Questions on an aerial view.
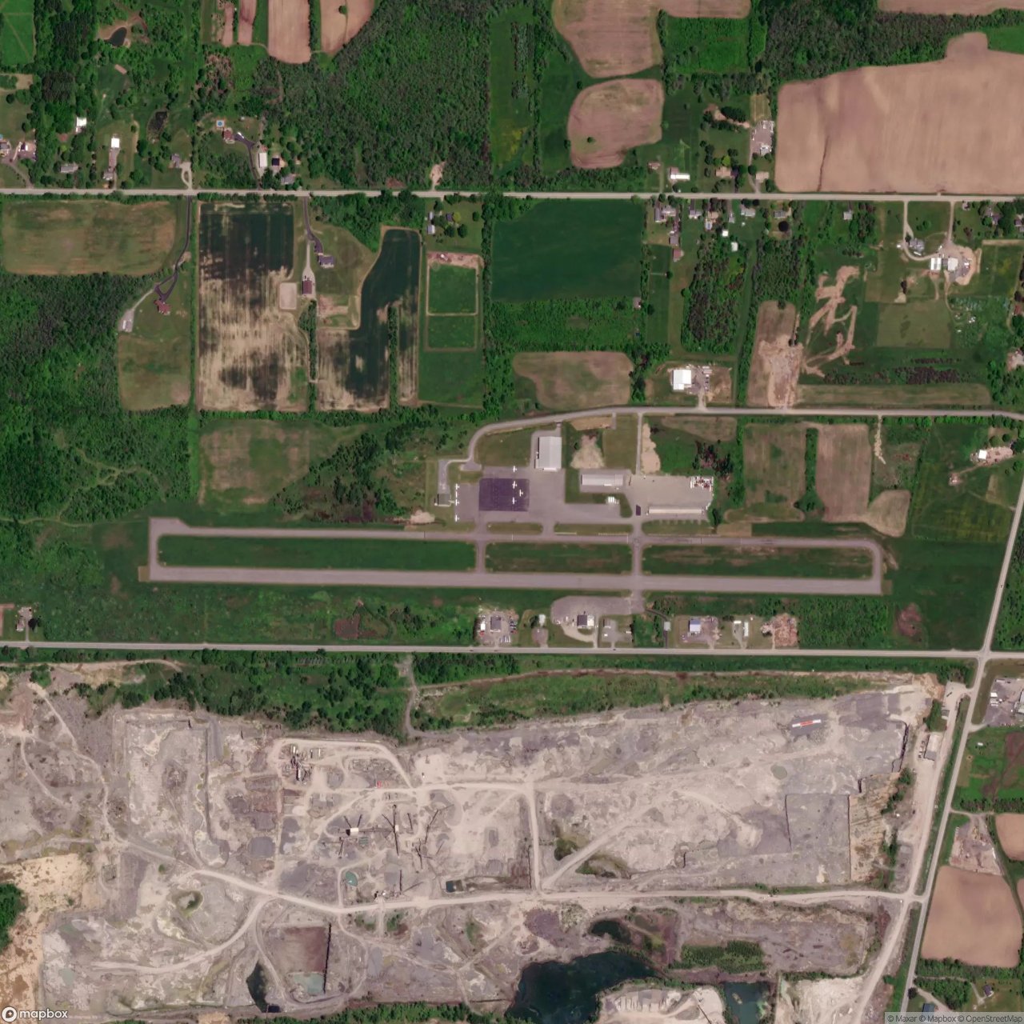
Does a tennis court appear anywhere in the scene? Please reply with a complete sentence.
No, the photo shows no tennis court.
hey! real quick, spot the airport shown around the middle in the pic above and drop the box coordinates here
[139,425,892,641]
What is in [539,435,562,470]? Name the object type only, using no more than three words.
hangar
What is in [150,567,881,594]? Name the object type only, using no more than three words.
runway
